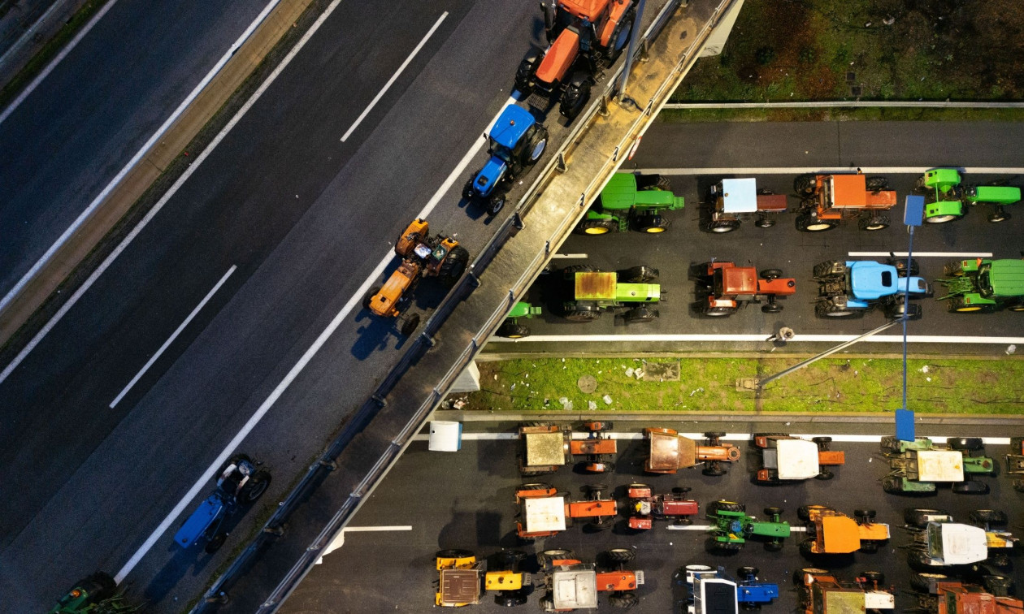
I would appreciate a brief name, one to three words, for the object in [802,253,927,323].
work vehicle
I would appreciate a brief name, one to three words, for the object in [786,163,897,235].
work vehicle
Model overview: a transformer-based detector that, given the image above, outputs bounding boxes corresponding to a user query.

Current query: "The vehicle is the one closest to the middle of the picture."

[487,289,541,342]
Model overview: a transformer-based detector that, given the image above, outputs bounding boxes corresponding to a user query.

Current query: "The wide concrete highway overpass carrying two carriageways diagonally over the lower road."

[0,0,744,614]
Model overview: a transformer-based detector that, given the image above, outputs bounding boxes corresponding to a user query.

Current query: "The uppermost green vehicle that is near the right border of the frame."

[908,173,1021,230]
